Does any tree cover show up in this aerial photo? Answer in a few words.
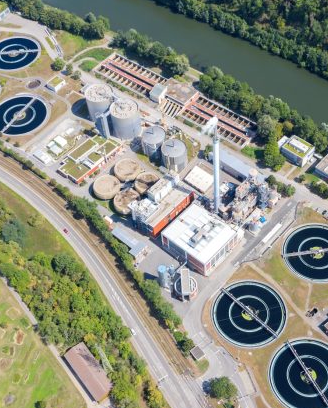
Yes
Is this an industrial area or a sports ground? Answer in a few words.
industrial area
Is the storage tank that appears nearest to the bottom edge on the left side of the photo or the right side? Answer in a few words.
right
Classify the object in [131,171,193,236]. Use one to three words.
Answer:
building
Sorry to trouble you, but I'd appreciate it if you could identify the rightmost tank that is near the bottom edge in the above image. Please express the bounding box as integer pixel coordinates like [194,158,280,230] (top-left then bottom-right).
[268,338,328,408]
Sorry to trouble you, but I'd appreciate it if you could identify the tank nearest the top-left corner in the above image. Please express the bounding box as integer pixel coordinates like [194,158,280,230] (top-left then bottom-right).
[0,36,41,71]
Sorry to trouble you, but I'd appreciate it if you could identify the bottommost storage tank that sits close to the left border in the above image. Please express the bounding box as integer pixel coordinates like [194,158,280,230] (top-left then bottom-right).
[0,94,49,137]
